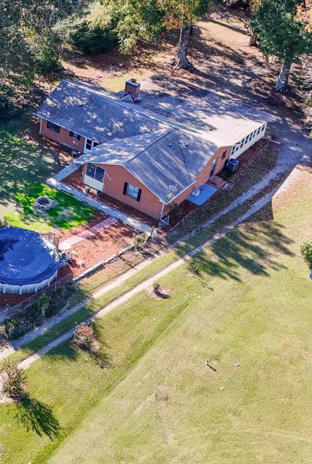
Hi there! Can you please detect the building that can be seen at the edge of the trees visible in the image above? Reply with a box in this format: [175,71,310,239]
[28,76,277,221]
